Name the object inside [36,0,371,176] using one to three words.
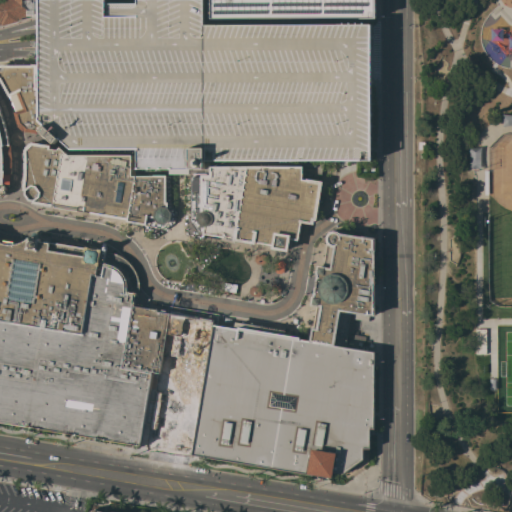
building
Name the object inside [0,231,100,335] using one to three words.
building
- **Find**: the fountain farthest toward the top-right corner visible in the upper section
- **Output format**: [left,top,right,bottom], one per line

[352,191,368,207]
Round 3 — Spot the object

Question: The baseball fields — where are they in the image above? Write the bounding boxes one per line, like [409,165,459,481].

[488,132,512,306]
